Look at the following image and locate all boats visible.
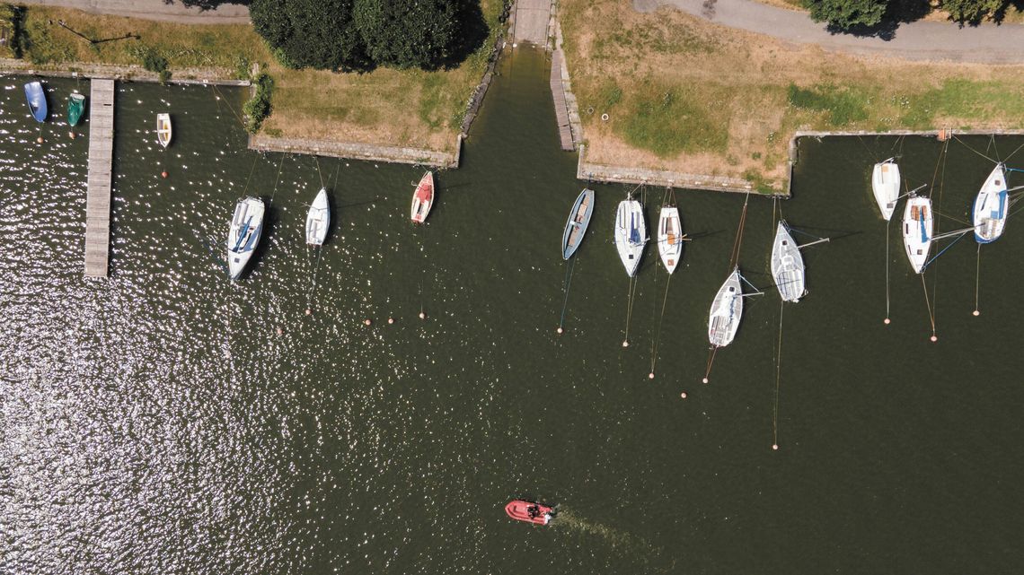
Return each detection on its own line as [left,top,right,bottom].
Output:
[504,499,555,526]
[302,187,330,248]
[770,221,829,304]
[708,270,765,346]
[657,204,692,274]
[24,81,50,123]
[871,158,927,221]
[202,197,266,280]
[156,112,172,148]
[615,196,650,277]
[411,171,434,225]
[67,93,87,127]
[562,188,595,260]
[900,194,975,273]
[970,162,1024,242]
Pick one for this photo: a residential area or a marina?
marina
